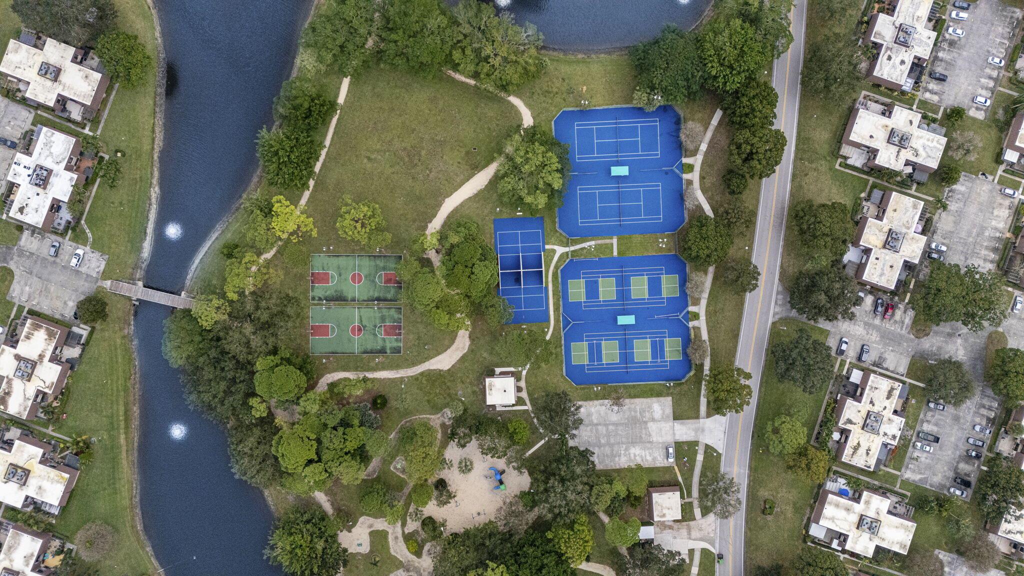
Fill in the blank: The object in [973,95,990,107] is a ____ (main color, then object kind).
white vehicle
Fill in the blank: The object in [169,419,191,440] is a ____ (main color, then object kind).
white fountain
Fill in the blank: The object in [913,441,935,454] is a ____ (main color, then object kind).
white vehicle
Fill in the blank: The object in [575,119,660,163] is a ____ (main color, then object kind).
blue tennis court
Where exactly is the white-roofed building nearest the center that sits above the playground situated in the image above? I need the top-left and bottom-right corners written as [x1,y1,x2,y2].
[485,370,519,408]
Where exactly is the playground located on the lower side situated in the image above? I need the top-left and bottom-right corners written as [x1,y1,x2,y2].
[404,438,532,535]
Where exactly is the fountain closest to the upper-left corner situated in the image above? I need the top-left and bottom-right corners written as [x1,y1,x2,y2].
[165,220,188,241]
